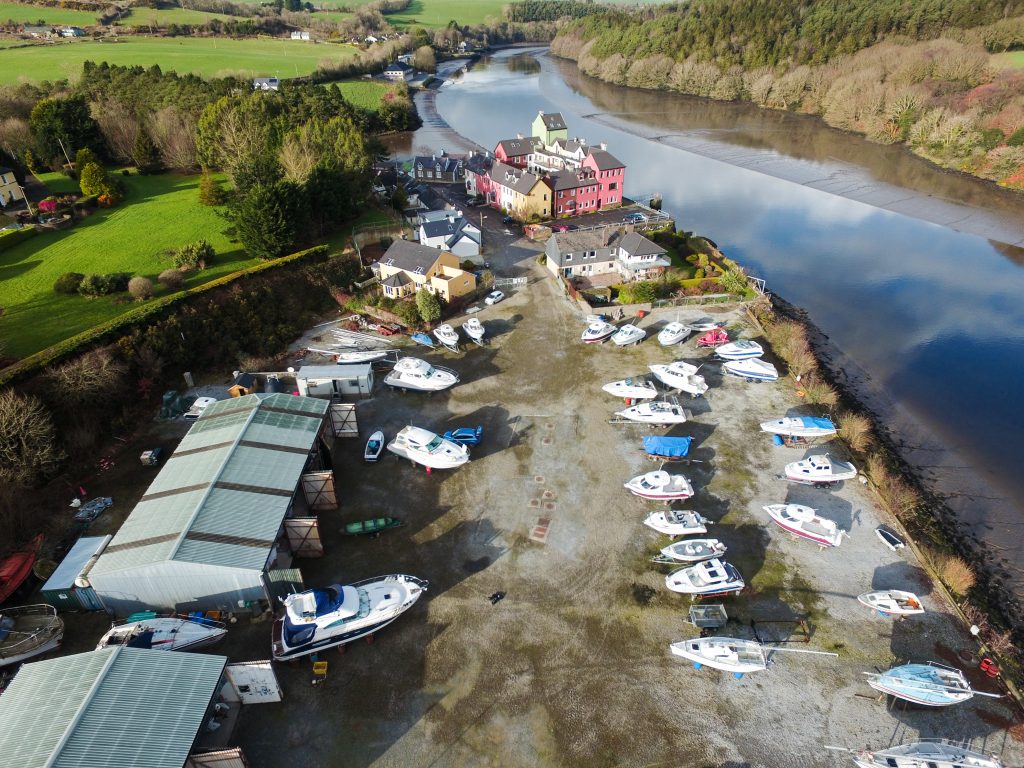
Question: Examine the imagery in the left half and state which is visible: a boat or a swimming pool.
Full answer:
There is a boat in the left half.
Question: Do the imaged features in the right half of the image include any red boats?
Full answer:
Yes, a red boat shows up in the right half of the image.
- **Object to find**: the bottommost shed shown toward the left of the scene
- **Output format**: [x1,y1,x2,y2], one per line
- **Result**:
[0,639,283,768]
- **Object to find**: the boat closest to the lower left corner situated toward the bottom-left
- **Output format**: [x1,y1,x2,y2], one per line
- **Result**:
[0,609,61,664]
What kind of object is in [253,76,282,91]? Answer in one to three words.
house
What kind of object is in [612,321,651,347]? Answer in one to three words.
boat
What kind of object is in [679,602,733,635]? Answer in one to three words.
trailer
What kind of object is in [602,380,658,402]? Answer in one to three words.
boat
